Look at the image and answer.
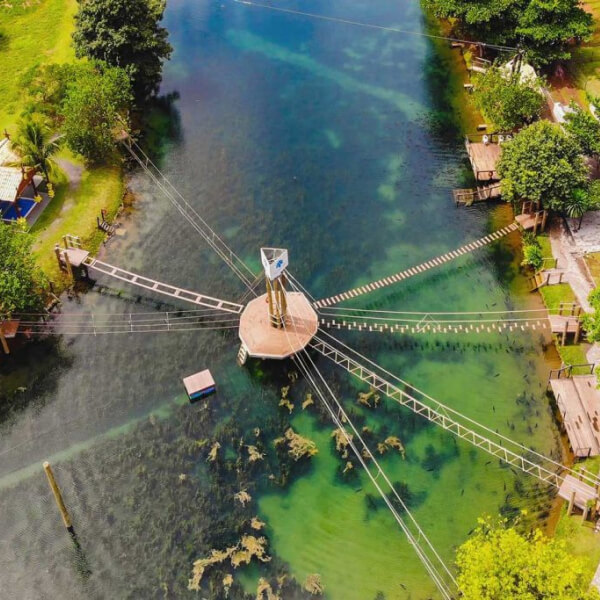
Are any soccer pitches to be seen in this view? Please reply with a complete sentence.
No, this view has no soccer pitch in it.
